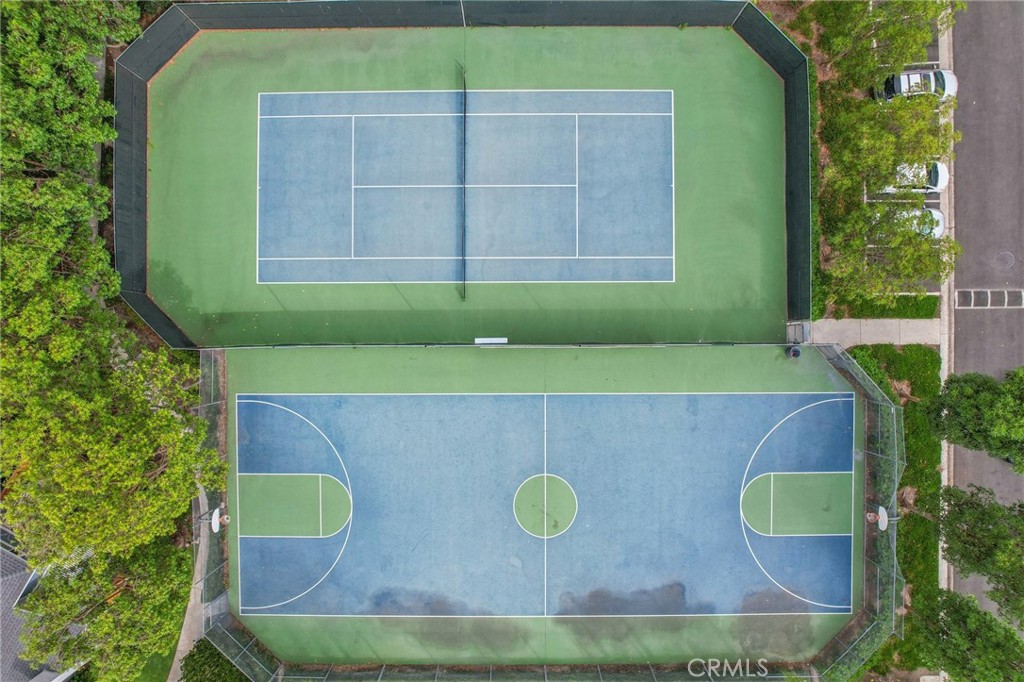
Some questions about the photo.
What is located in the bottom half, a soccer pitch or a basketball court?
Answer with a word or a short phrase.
basketball court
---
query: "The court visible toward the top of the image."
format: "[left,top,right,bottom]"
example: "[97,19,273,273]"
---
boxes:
[147,26,787,347]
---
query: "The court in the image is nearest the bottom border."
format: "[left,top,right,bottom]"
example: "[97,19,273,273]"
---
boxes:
[228,348,864,665]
